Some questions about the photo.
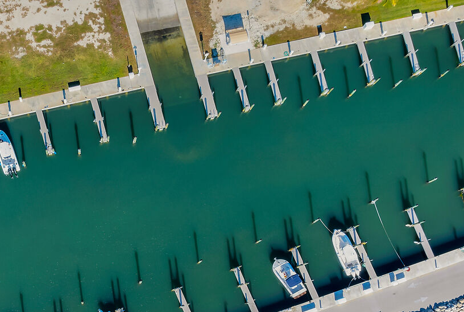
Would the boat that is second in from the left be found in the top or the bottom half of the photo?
bottom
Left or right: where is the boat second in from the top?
right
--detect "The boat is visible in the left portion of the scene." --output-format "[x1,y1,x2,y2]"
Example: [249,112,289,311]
[0,130,20,175]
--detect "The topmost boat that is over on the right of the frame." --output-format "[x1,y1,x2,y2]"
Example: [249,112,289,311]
[334,228,359,277]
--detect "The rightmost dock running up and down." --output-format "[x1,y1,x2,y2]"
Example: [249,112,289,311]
[448,22,464,68]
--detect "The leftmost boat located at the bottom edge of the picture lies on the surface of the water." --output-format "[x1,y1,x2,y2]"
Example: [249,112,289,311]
[276,258,304,300]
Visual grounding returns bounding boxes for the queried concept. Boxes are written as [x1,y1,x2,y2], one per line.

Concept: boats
[276,258,304,300]
[0,130,20,175]
[334,228,359,277]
